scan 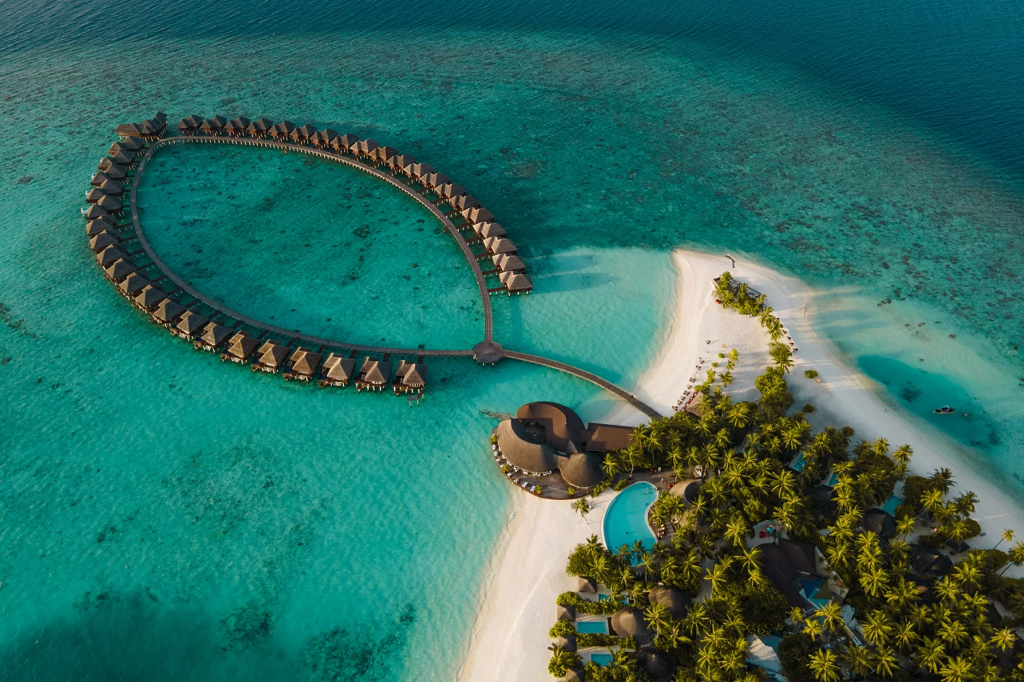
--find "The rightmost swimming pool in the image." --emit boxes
[879,493,906,519]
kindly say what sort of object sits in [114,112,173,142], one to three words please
shed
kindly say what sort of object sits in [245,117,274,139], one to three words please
house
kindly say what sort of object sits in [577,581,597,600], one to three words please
shed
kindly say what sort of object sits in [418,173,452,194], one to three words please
house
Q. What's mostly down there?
water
